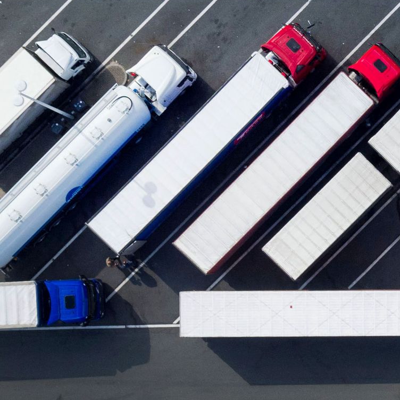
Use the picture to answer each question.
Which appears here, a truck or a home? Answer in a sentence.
Looking from above, you can make out a truck.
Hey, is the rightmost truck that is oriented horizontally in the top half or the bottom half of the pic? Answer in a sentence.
The rightmost truck that is oriented horizontally is in the bottom half of the image.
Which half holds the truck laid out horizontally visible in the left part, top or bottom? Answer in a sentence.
Seen from above, the truck laid out horizontally visible in the left part lies in the bottom half of the view.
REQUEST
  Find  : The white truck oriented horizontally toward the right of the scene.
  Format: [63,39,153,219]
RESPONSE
[179,289,400,337]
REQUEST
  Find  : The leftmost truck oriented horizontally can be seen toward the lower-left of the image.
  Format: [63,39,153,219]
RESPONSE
[0,276,109,328]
